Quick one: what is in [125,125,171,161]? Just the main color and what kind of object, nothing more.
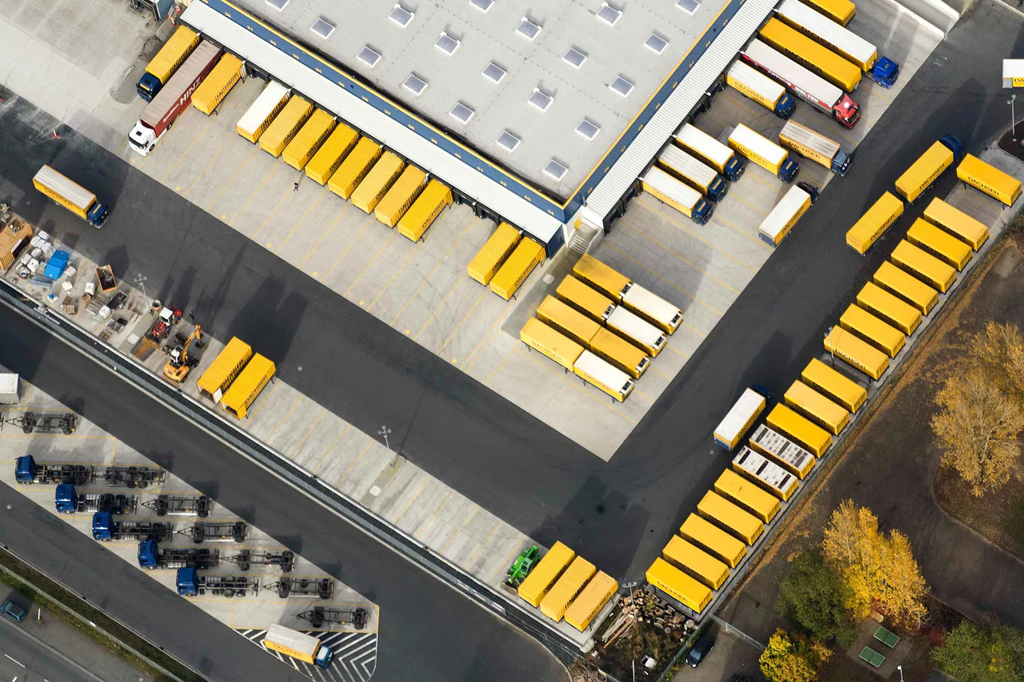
white truck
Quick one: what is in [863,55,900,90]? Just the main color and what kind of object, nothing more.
blue truck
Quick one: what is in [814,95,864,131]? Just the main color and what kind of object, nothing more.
red truck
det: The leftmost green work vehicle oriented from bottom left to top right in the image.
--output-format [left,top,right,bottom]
[501,541,545,593]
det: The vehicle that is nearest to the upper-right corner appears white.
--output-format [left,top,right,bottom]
[1003,60,1024,92]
